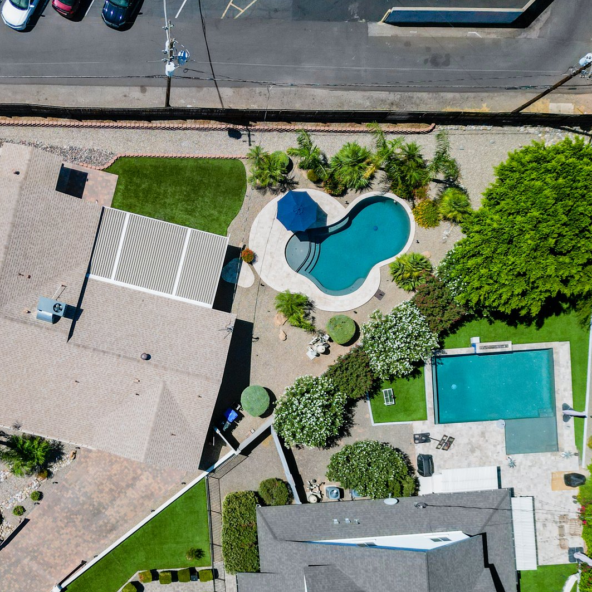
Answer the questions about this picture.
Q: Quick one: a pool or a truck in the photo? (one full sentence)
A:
Of the two, only a pool appears.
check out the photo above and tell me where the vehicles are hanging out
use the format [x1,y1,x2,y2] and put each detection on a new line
[5,0,45,31]
[50,0,86,19]
[102,0,141,30]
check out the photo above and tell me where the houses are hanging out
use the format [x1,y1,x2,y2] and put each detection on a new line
[234,488,520,592]
[0,143,236,471]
